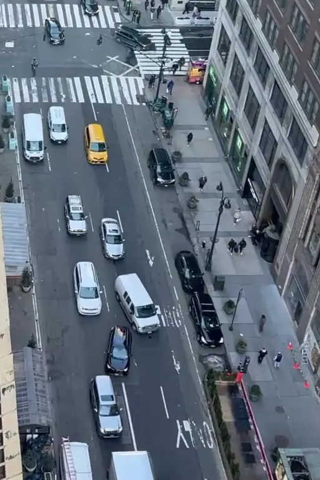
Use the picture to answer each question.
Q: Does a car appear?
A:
Yes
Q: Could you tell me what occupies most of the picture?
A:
paved ground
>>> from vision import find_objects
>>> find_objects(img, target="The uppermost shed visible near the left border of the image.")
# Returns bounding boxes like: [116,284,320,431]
[0,202,34,300]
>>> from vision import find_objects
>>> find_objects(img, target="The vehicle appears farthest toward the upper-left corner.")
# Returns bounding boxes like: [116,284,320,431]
[42,16,64,45]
